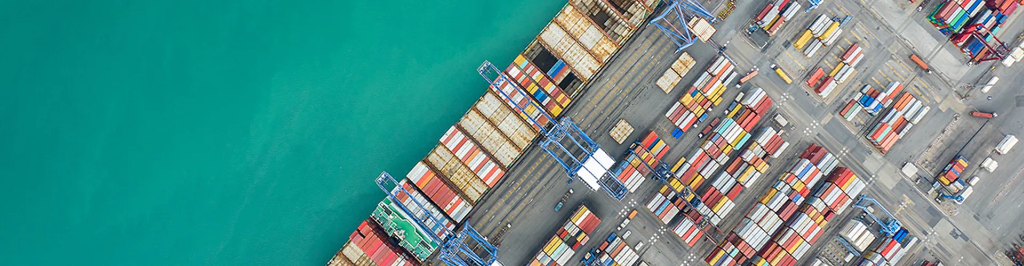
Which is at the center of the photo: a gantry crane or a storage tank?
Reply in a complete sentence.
Visible at the center of the photo is a gantry crane.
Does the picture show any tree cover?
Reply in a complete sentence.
No, tree cover can't be seen anywhere here.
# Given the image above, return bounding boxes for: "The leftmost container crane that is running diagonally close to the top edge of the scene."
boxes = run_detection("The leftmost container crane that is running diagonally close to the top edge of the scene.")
[647,0,742,70]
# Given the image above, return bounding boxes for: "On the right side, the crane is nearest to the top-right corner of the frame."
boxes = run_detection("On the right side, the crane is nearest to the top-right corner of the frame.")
[948,24,1007,65]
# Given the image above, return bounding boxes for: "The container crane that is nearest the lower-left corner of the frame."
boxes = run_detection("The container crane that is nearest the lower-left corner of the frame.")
[374,171,510,266]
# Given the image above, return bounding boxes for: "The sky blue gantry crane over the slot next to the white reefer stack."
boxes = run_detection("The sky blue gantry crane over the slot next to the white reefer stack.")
[846,196,905,242]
